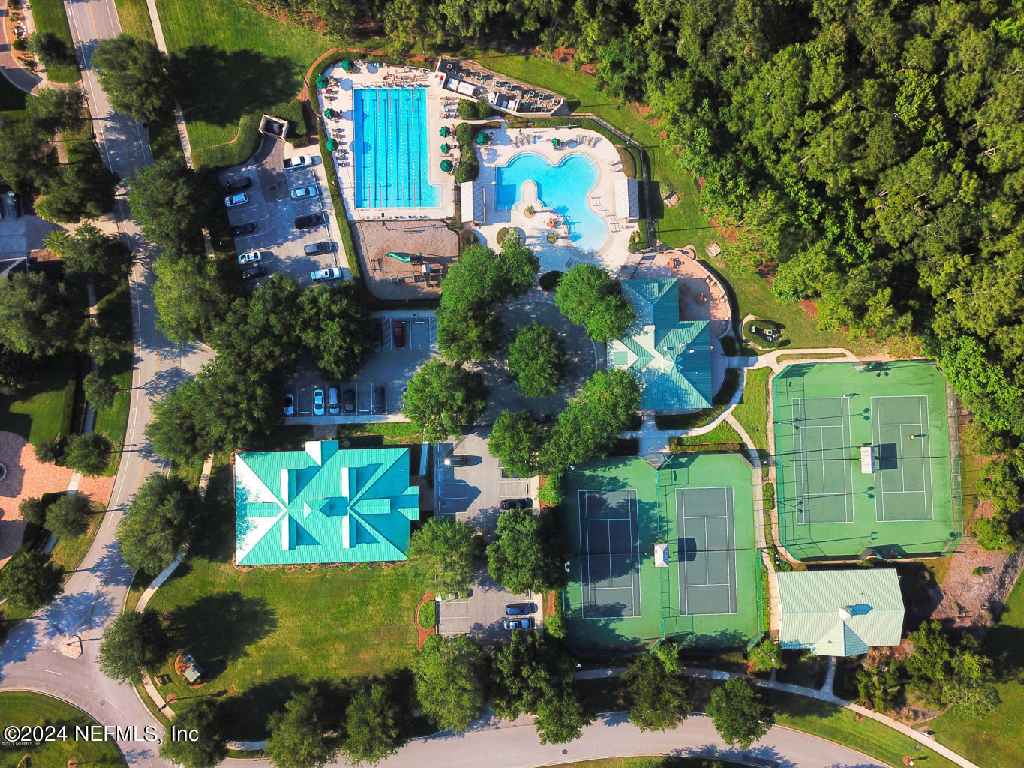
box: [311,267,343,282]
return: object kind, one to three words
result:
vehicle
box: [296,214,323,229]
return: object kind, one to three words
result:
car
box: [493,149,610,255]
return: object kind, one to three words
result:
swimming pool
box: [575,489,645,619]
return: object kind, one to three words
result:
tennis court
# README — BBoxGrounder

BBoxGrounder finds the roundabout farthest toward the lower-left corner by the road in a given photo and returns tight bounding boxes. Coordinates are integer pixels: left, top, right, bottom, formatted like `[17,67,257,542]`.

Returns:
[0,640,179,768]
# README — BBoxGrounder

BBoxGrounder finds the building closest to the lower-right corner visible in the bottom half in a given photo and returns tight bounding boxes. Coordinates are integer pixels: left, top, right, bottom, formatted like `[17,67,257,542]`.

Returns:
[773,569,907,659]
